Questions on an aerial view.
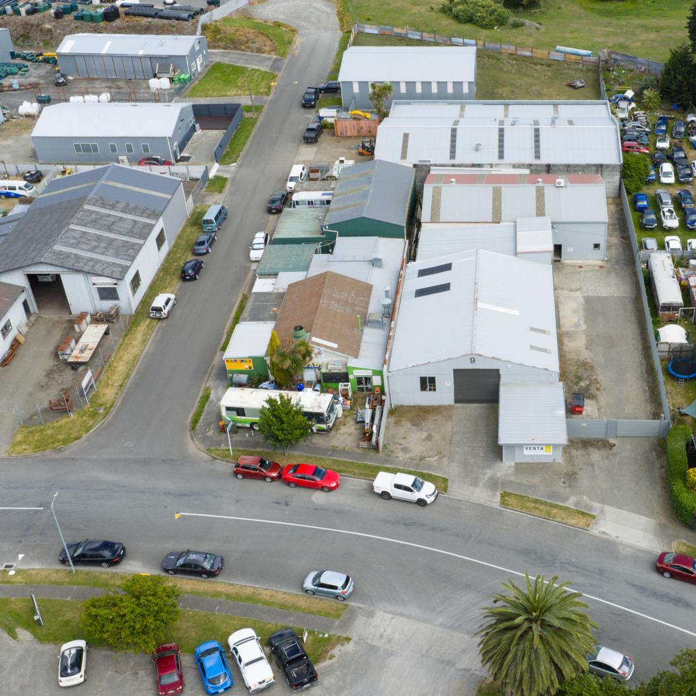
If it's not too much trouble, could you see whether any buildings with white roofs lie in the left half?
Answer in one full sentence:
Yes, in the left half there is a building with a white roof.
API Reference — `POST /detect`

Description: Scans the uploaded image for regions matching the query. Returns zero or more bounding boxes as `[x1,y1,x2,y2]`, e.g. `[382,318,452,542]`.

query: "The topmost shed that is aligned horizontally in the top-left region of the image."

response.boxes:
[55,34,212,78]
